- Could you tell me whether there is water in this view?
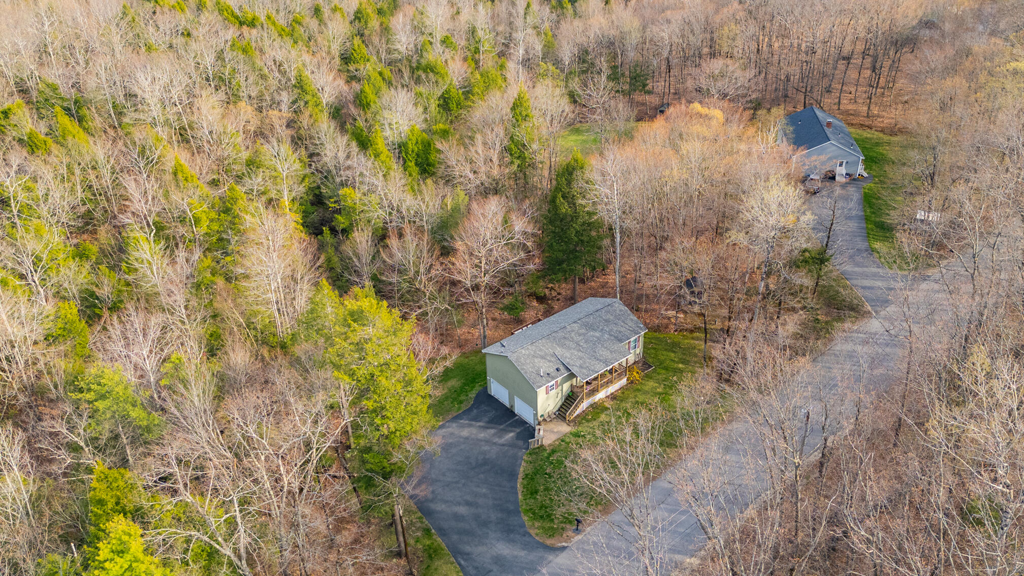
No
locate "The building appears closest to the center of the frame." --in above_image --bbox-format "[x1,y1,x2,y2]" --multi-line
[481,298,647,429]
